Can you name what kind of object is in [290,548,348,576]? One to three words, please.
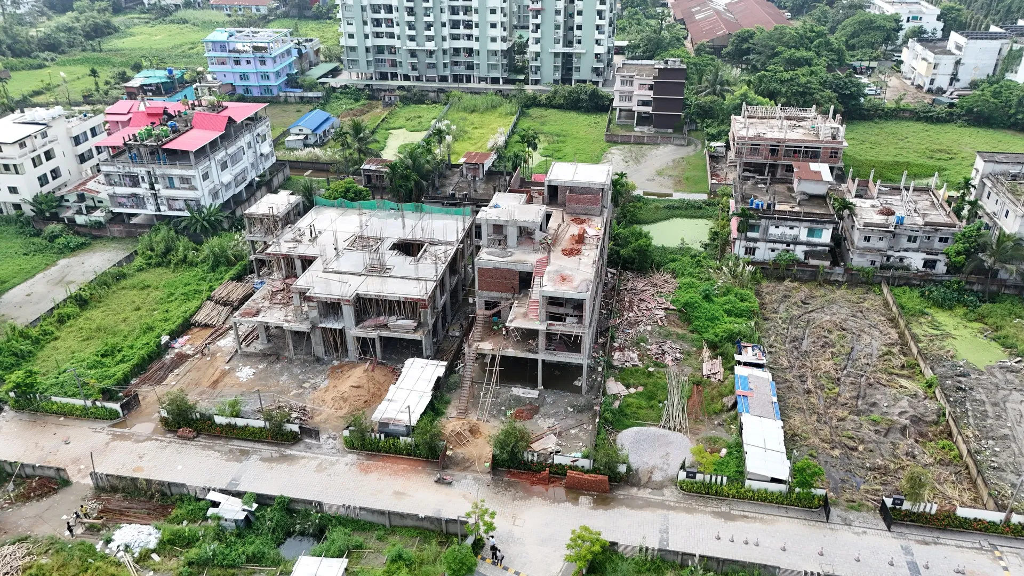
shed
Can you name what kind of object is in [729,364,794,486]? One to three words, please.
shed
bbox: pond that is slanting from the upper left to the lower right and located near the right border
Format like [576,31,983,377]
[930,310,1005,363]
